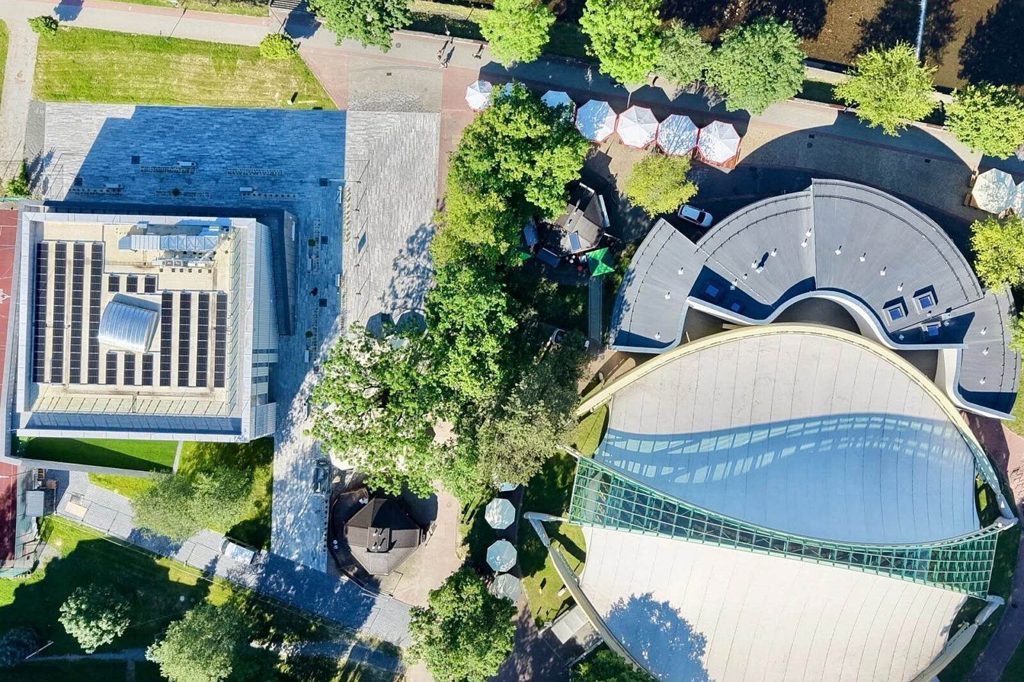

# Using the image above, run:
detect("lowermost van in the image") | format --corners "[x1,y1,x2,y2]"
[215,539,257,570]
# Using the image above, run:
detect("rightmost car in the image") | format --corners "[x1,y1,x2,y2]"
[680,203,716,226]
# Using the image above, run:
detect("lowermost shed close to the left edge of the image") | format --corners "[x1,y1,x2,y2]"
[26,486,58,517]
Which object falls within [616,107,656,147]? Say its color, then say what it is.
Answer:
white umbrella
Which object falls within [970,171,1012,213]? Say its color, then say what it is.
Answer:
white umbrella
